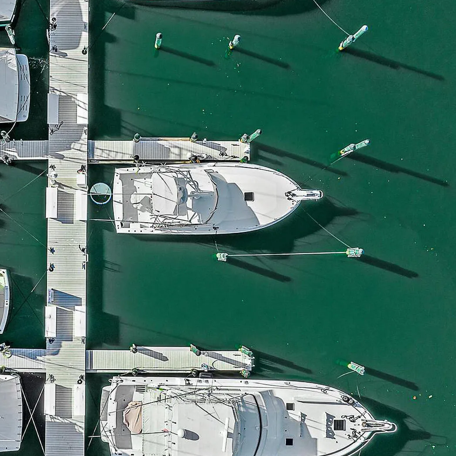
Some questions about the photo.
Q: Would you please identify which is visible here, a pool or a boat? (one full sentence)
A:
I can see a boat in this picture.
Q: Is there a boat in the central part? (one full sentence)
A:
Yes, I can see a boat in the central part.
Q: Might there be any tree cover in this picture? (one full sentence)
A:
No, no tree cover is visible.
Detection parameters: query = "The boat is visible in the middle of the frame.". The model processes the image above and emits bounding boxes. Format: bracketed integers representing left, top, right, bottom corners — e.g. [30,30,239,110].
[95,162,323,235]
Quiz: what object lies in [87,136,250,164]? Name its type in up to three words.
pier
